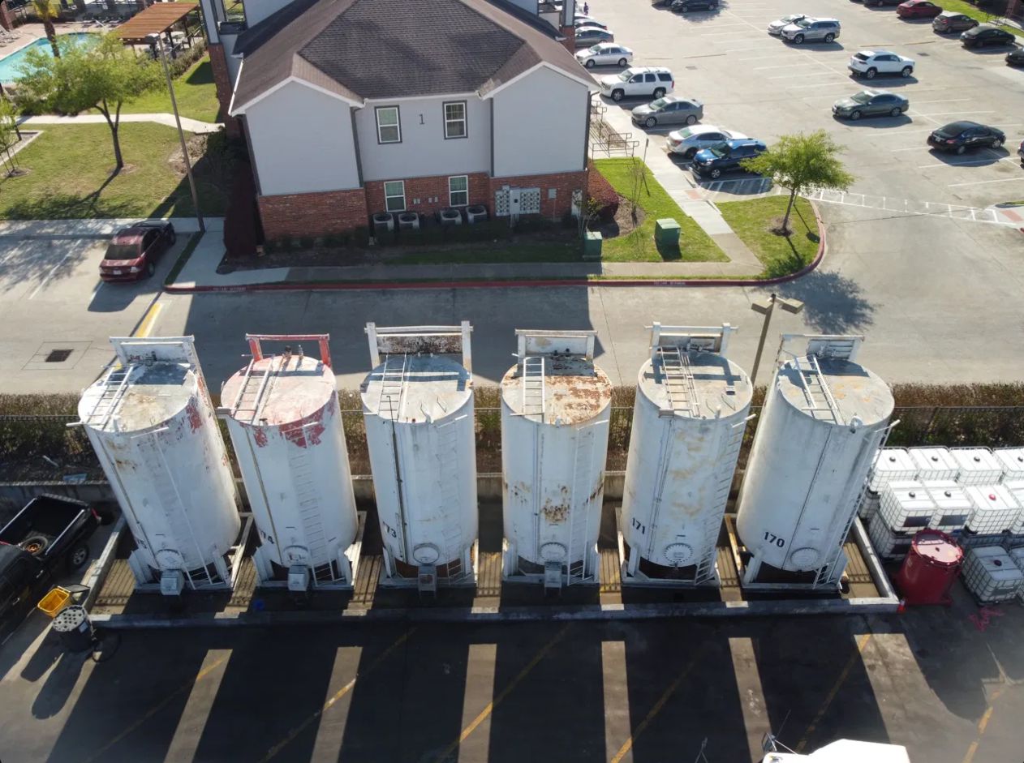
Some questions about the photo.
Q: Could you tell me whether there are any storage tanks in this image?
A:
Yes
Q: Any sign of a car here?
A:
Yes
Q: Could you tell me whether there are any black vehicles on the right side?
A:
Yes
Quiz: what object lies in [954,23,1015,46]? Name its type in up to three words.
car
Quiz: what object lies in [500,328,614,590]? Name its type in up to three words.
storage tank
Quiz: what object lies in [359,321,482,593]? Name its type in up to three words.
storage tank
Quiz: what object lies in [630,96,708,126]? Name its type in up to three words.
car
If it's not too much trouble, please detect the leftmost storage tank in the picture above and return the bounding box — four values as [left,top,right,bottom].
[54,332,251,597]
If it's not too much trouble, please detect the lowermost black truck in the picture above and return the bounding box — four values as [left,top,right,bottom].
[0,491,101,651]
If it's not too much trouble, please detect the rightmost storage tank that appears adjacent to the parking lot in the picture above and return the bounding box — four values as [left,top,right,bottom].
[725,327,898,580]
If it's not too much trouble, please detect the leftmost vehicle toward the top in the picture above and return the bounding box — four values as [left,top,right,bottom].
[100,212,182,282]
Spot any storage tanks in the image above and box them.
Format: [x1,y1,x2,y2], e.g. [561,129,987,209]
[611,320,754,582]
[54,332,251,597]
[725,327,898,580]
[359,321,482,593]
[895,533,967,614]
[500,328,614,590]
[203,332,368,595]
